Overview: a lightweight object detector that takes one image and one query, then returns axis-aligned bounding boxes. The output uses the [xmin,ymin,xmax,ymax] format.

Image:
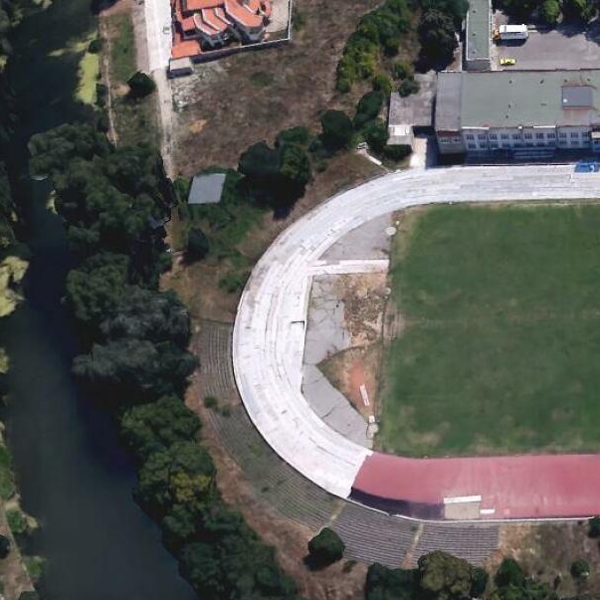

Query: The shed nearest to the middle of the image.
[188,173,228,209]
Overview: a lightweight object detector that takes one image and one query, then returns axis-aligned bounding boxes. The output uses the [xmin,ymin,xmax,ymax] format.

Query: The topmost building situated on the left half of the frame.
[172,0,273,61]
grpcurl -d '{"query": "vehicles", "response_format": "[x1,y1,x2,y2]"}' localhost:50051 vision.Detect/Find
[496,27,528,43]
[500,56,516,65]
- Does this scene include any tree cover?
Yes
